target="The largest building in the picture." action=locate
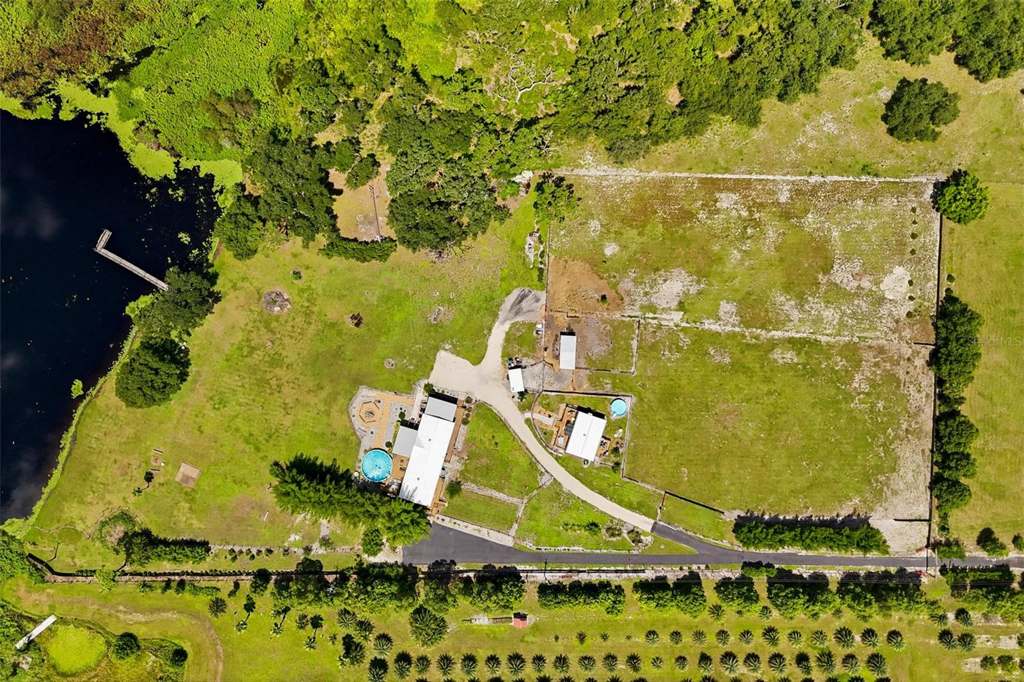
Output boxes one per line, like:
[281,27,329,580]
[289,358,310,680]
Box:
[393,397,457,506]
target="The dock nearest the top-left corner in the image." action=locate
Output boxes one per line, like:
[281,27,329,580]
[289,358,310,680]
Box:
[93,229,165,287]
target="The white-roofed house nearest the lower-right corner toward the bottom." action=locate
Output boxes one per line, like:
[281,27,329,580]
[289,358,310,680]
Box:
[566,411,607,461]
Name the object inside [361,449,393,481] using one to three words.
swimming pool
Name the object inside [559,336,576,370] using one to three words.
barn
